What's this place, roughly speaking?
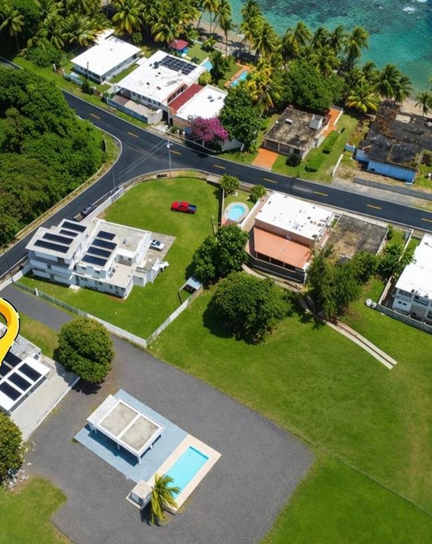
residential area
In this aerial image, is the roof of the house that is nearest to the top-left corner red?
No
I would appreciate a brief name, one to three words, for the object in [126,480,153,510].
shed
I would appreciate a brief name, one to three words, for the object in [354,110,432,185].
house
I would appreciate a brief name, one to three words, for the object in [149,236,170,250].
vehicle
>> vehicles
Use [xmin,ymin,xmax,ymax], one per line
[149,236,170,250]
[170,201,198,214]
[77,202,99,217]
